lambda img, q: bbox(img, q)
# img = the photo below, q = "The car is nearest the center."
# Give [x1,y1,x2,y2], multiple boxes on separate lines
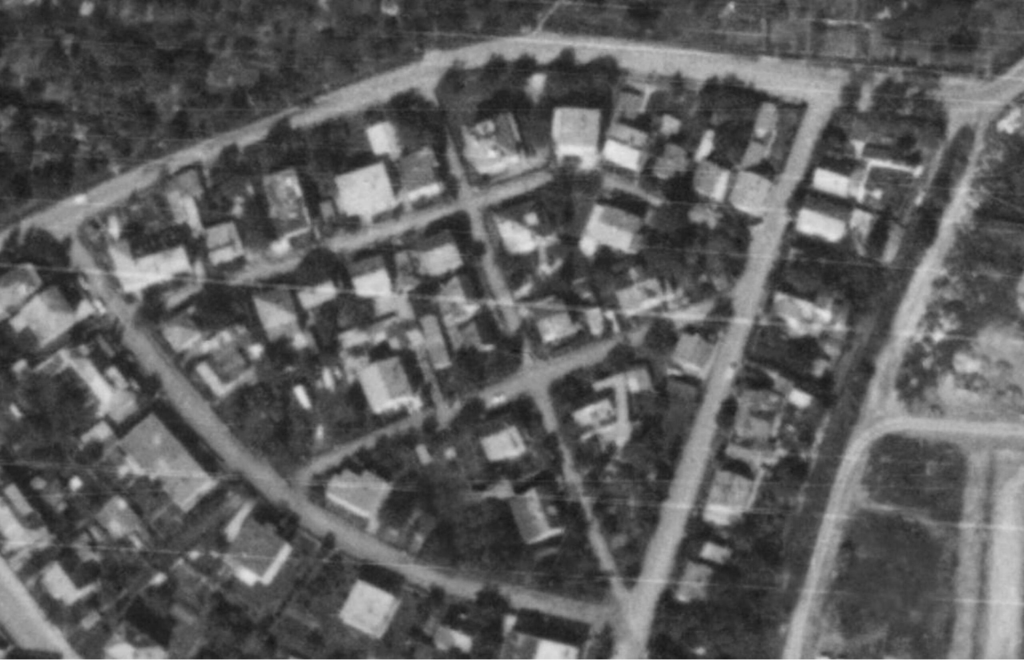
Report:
[491,393,509,405]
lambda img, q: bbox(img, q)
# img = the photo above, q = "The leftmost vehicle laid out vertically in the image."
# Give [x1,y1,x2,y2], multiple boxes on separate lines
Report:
[108,216,120,239]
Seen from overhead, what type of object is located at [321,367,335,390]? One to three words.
vehicle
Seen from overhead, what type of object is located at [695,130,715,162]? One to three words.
shed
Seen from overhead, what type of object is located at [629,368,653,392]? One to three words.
house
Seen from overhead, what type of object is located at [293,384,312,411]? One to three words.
vehicle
